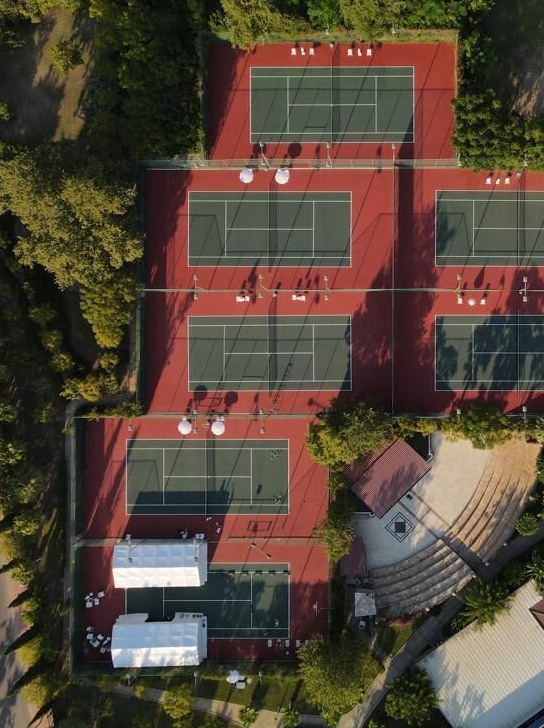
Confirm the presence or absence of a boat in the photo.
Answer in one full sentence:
No, I can't see a single boat in this photo.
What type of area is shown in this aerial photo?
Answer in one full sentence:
The area seen from above is a sports ground.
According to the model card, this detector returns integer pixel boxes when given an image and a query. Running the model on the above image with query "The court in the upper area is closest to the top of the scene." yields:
[206,43,457,168]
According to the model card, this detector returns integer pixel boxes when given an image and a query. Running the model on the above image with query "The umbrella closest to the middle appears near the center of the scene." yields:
[211,419,225,433]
